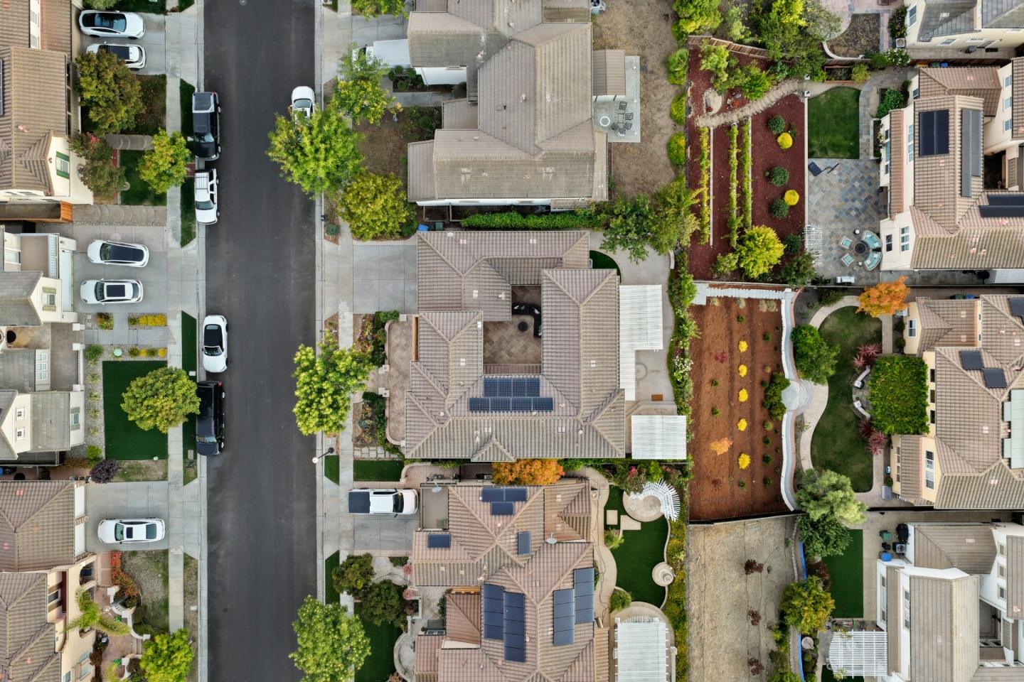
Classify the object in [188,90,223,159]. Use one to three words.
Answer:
vehicle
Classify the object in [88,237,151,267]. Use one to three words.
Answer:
car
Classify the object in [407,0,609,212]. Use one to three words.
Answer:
house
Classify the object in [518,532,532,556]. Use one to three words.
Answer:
solar panel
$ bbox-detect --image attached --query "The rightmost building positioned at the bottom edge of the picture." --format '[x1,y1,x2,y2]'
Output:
[875,520,1024,682]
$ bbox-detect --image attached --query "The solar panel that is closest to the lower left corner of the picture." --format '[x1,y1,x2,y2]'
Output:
[427,533,451,549]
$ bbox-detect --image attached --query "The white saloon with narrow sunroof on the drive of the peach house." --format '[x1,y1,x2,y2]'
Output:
[101,517,165,546]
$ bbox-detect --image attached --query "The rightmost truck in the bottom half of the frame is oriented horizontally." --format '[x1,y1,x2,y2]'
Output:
[348,487,417,519]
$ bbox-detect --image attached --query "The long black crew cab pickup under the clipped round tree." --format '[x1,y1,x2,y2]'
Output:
[192,382,227,455]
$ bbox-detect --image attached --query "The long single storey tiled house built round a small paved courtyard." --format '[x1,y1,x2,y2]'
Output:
[404,230,626,463]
